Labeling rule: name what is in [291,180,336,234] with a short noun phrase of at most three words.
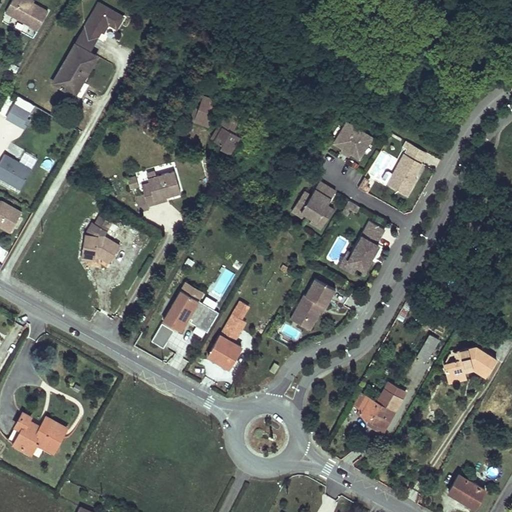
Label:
house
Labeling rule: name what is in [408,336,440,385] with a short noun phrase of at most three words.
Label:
shed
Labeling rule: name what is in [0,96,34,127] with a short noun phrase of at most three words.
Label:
building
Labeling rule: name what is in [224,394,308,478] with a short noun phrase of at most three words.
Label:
roundabout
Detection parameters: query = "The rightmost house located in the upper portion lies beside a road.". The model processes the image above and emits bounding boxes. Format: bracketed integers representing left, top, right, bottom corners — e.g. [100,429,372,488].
[368,141,440,198]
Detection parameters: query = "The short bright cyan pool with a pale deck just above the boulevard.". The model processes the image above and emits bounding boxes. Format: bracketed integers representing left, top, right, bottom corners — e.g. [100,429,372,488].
[278,323,302,344]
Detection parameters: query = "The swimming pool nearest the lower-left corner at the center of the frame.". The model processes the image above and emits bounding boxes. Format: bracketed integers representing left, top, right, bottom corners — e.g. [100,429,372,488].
[208,264,236,302]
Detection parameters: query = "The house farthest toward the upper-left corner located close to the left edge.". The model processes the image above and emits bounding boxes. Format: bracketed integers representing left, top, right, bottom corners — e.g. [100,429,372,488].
[2,0,50,38]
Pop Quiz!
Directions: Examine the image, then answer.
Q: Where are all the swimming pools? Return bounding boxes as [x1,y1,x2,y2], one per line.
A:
[208,264,236,302]
[326,238,348,264]
[488,467,499,478]
[40,157,55,172]
[278,323,302,344]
